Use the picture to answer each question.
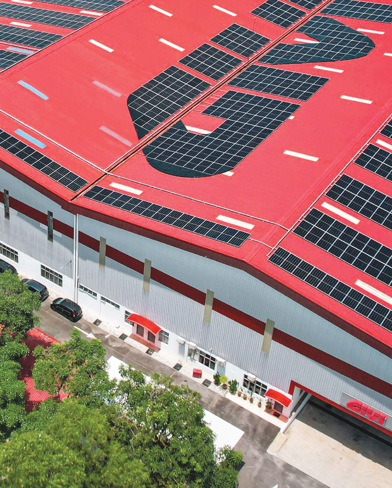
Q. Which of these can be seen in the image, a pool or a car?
car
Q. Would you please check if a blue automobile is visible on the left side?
No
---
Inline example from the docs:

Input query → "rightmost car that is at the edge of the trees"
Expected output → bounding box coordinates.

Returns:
[45,299,85,329]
